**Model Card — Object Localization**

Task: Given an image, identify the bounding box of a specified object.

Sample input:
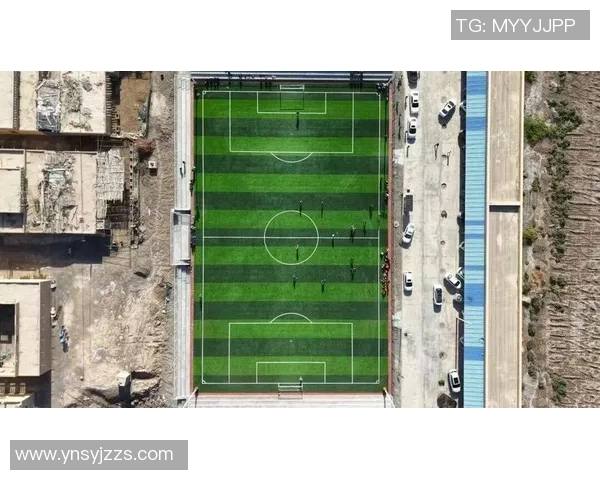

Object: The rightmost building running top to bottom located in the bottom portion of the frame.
[488,210,524,480]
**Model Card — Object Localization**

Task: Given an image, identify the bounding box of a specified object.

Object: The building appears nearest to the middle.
[172,208,192,264]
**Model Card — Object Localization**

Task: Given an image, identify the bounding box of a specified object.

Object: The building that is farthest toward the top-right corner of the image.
[482,0,524,210]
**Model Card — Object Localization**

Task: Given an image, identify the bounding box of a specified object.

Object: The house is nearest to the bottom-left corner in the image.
[0,389,42,471]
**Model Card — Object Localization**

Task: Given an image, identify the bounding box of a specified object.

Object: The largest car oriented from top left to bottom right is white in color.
[442,272,462,289]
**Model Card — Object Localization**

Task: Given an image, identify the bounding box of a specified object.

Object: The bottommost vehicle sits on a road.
[448,369,461,391]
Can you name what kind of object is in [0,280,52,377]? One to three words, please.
house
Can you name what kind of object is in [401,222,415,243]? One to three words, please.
car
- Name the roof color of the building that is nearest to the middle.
white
